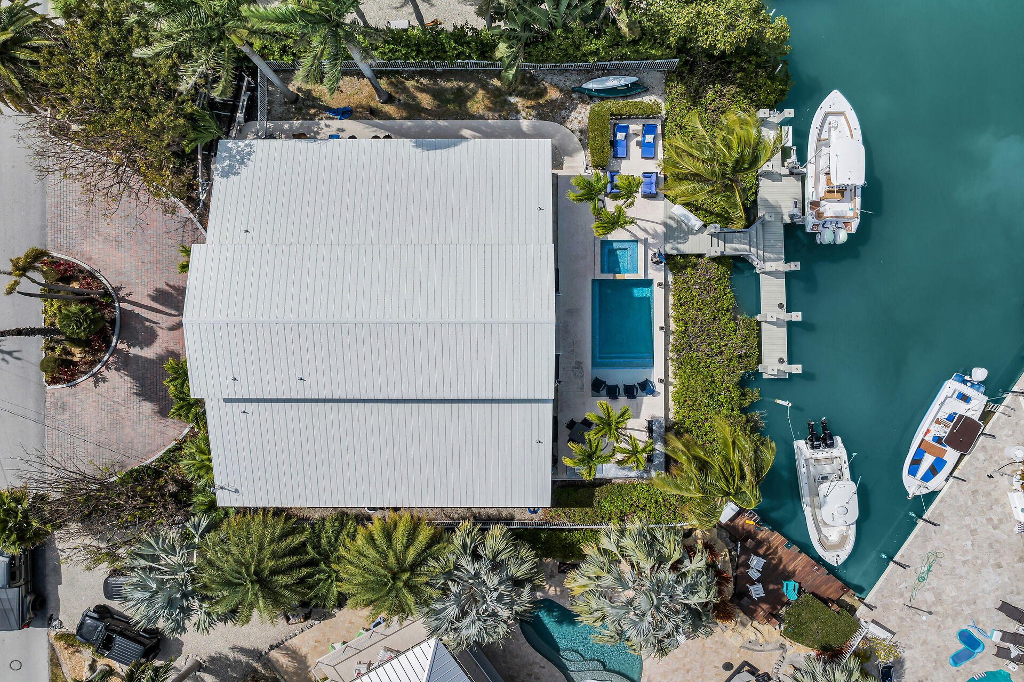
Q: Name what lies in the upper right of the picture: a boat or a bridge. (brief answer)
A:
boat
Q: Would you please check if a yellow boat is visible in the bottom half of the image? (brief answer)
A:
No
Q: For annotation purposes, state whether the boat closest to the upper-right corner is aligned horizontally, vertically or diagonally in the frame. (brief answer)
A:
vertically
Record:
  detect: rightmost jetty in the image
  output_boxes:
[753,109,801,378]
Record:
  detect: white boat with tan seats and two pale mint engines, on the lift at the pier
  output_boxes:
[803,89,873,245]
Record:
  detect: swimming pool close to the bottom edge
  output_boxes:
[520,599,642,682]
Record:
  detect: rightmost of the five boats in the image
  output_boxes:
[903,367,989,500]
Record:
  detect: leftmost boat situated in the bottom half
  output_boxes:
[795,416,860,571]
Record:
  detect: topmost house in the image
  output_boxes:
[183,139,563,507]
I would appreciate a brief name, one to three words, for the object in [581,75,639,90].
boat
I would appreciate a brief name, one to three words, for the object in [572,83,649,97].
boat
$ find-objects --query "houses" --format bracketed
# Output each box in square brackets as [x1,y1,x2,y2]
[183,139,563,507]
[310,596,492,682]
